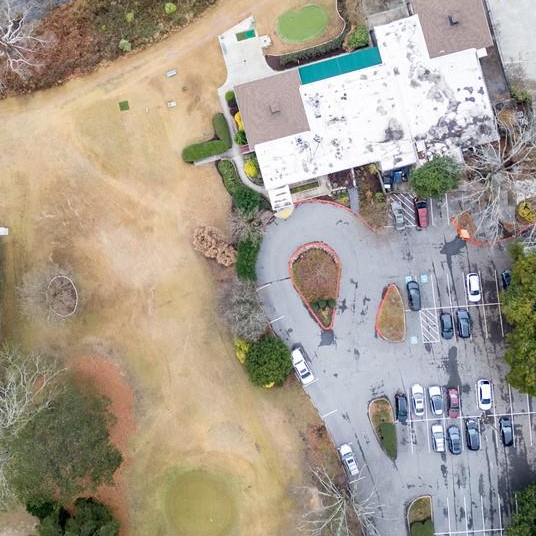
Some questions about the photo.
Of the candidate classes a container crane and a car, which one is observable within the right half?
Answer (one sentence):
Looking within the right half, you will find a car.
